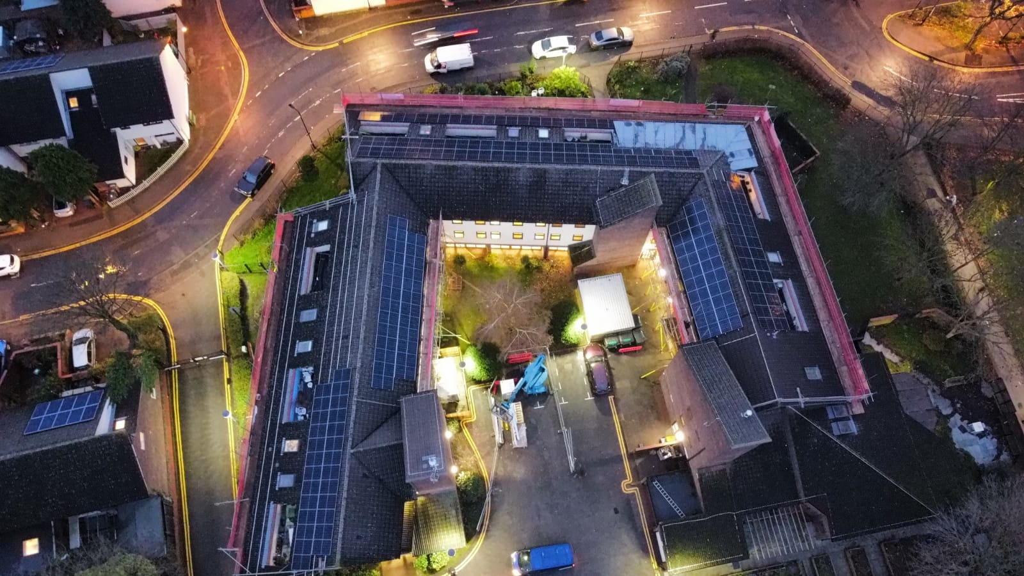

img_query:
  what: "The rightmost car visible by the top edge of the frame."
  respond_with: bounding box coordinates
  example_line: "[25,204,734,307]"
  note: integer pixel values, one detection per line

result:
[589,28,634,52]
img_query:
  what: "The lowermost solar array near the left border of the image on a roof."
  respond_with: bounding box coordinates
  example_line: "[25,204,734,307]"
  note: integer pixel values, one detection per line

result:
[25,392,104,435]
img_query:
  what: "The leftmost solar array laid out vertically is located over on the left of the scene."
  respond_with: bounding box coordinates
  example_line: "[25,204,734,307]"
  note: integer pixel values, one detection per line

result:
[292,366,353,571]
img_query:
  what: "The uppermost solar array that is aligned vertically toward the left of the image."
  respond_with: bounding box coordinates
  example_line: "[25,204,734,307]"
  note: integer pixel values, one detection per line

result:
[372,215,424,390]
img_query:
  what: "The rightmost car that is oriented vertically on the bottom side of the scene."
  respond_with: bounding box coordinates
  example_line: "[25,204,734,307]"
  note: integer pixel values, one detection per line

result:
[583,344,611,399]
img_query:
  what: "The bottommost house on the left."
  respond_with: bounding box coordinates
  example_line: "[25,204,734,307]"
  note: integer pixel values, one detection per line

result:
[0,379,176,576]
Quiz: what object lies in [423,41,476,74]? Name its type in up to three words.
van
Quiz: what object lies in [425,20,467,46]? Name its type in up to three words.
car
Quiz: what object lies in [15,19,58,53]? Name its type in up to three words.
shed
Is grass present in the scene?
Yes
